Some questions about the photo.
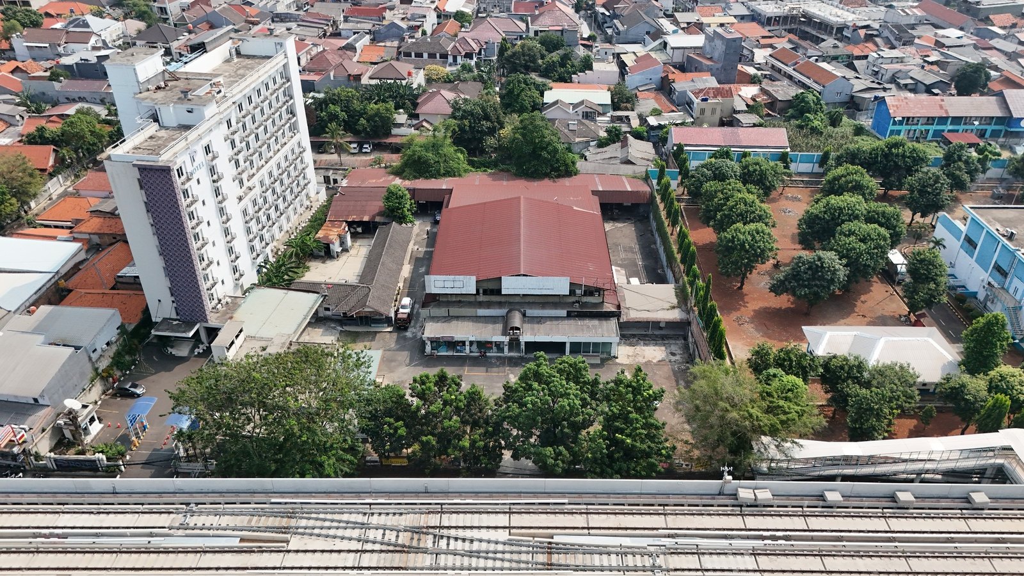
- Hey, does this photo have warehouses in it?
Yes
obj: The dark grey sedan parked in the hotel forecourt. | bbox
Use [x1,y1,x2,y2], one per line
[111,379,147,397]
